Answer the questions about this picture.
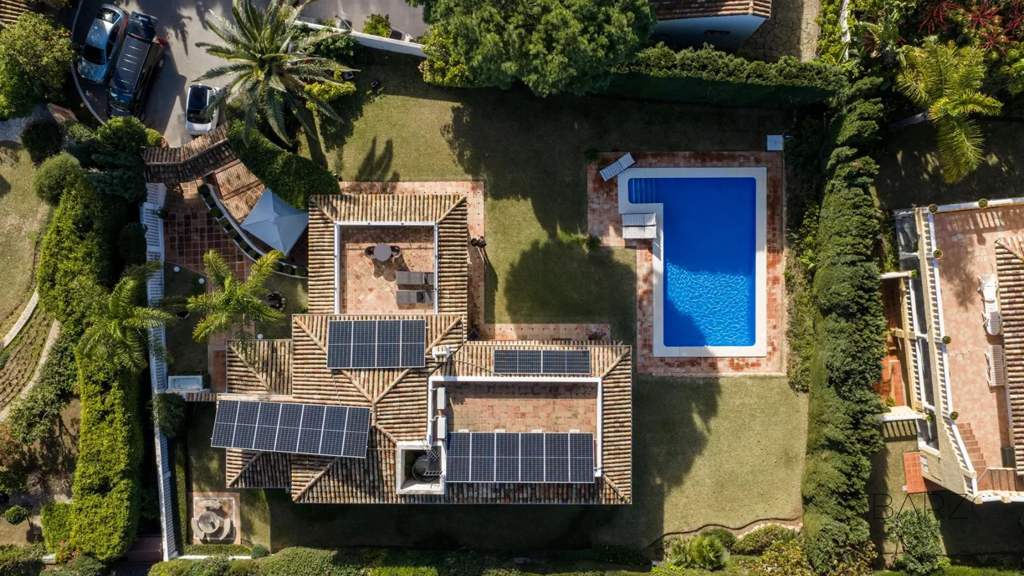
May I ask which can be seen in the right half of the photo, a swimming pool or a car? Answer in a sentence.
What appears in the right half of the photo is a swimming pool.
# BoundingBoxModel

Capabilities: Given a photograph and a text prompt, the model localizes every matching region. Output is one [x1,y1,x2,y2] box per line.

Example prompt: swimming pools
[619,167,767,357]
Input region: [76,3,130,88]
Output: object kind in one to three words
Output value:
car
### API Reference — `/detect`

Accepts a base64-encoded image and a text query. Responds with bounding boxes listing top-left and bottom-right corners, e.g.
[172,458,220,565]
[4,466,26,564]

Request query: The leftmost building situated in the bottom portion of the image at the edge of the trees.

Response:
[214,192,635,507]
